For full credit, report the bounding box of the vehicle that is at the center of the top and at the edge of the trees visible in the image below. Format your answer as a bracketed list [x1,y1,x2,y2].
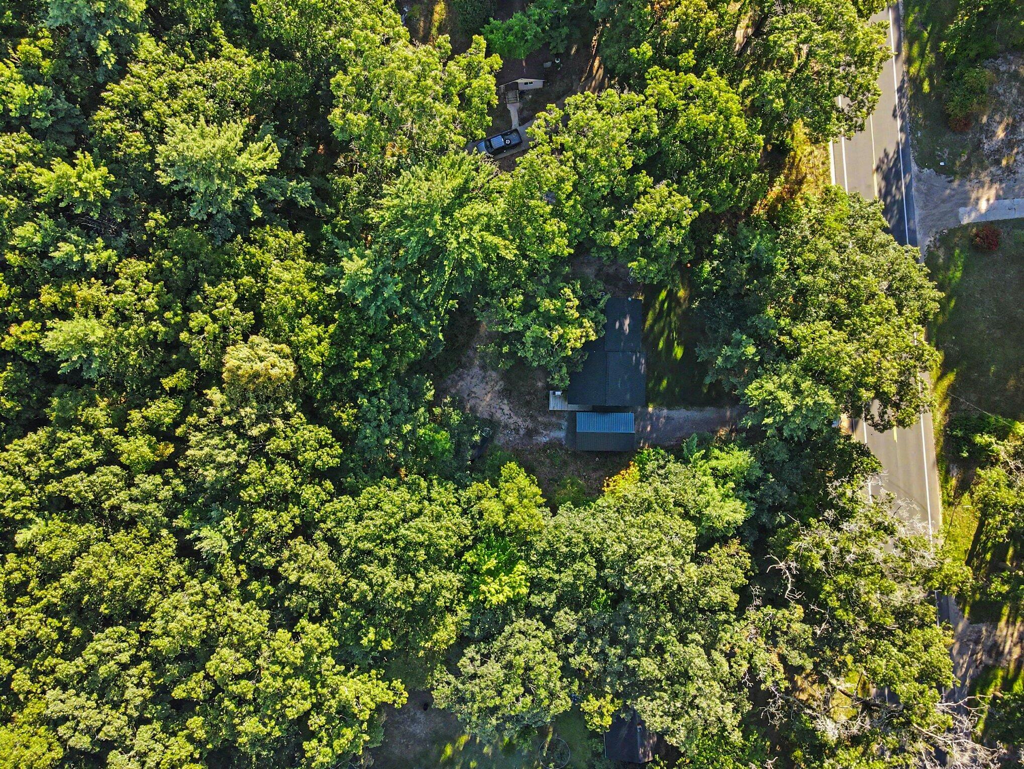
[473,129,525,160]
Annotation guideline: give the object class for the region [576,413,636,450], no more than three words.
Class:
shed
